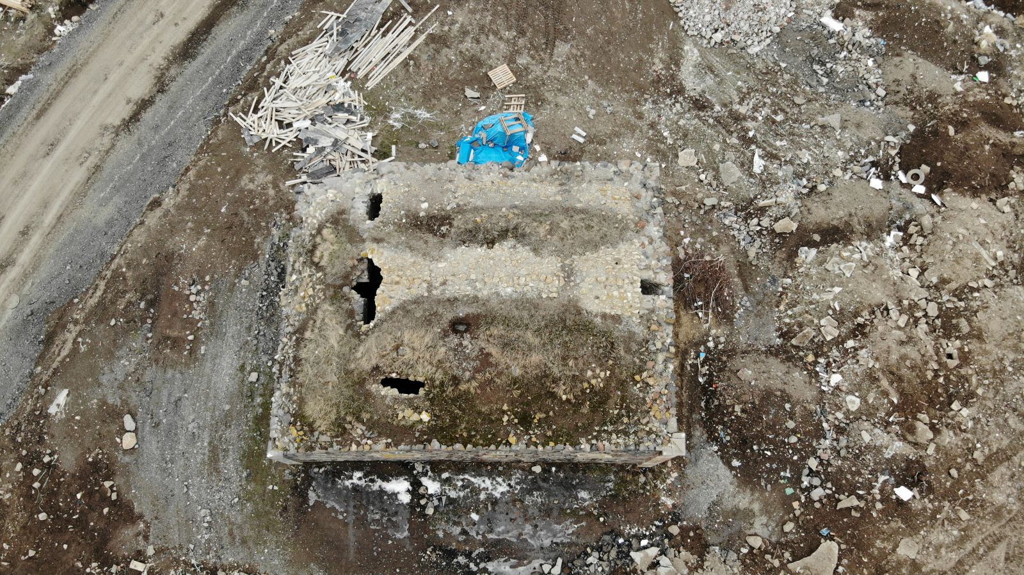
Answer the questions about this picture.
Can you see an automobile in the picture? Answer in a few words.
No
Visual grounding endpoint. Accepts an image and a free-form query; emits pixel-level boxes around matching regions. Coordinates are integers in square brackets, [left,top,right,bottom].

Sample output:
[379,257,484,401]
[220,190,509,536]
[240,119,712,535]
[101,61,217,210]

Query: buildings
[266,154,687,468]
